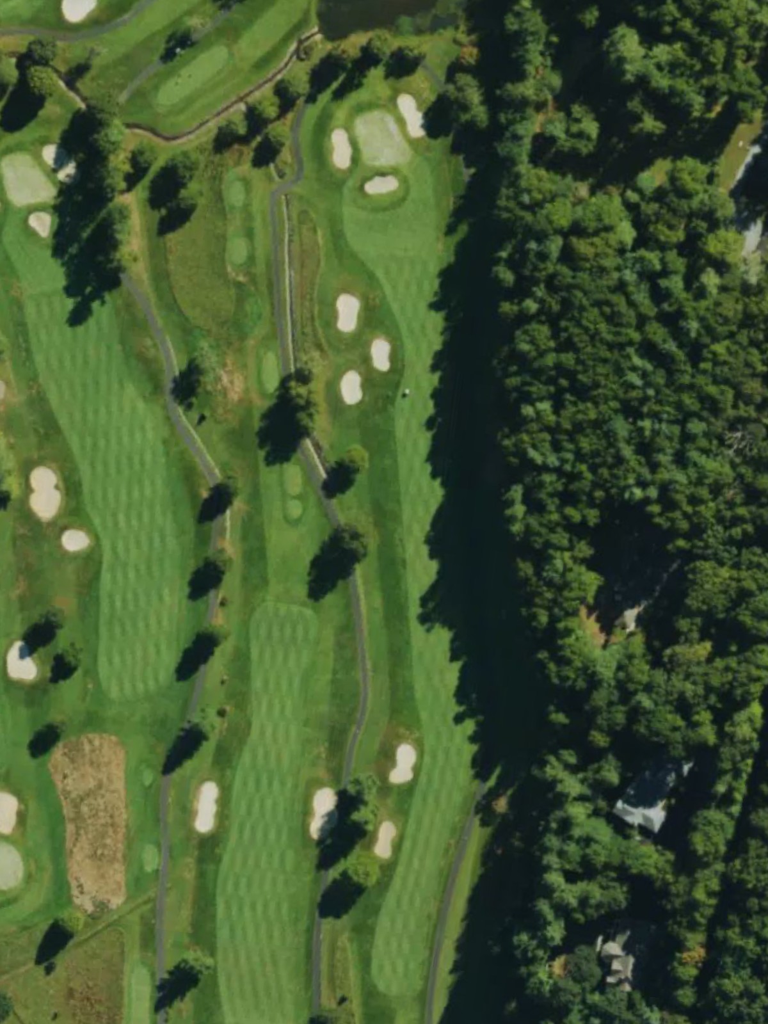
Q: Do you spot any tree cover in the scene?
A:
Yes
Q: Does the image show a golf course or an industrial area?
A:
golf course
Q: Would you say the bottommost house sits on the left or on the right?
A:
right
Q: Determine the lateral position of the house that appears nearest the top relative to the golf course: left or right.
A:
to its right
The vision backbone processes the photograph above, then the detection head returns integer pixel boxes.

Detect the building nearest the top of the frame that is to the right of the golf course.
[613,595,645,624]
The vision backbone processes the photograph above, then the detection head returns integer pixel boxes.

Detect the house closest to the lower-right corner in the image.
[601,937,638,993]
